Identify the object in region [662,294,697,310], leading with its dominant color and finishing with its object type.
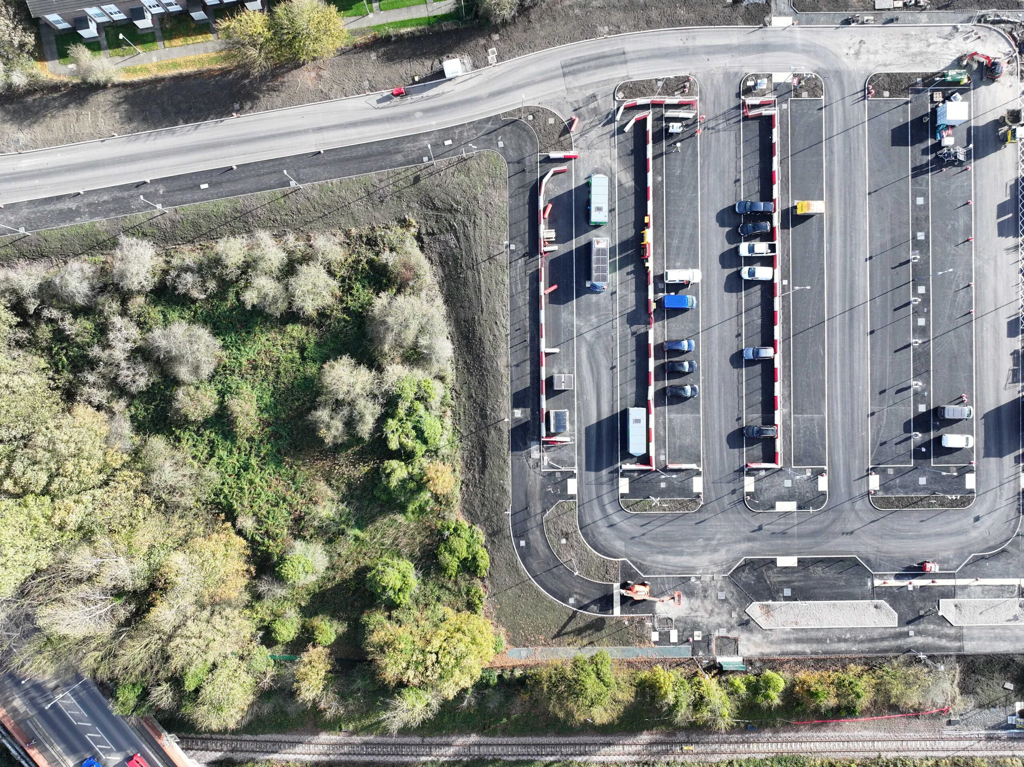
blue vehicle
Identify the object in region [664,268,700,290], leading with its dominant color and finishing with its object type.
white car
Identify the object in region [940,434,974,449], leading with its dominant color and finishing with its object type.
white vehicle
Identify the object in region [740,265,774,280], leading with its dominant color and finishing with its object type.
white vehicle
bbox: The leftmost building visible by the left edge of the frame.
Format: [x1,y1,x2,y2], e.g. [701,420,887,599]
[27,0,115,45]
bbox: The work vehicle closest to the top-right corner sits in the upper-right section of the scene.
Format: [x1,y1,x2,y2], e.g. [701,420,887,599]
[959,51,1012,79]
